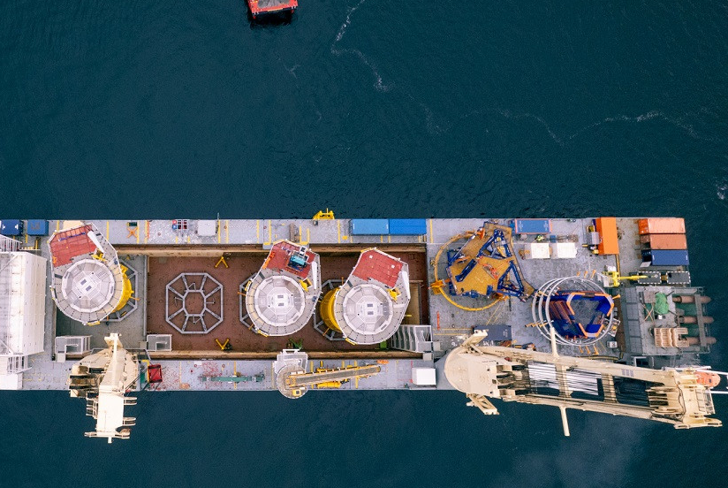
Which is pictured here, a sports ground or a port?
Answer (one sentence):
It's a port.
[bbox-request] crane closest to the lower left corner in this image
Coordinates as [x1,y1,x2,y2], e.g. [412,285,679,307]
[67,332,145,443]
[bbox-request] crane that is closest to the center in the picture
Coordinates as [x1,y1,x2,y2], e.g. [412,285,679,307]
[273,349,380,400]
